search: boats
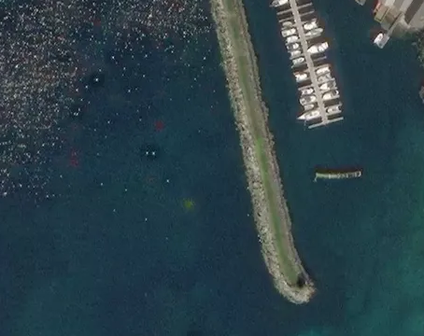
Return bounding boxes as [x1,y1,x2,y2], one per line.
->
[375,32,385,46]
[317,73,334,82]
[316,67,332,76]
[285,43,300,51]
[285,36,299,44]
[294,73,308,82]
[305,27,325,37]
[319,81,337,91]
[280,22,294,30]
[296,109,323,124]
[280,28,297,37]
[290,57,306,65]
[272,0,291,7]
[299,88,314,95]
[302,104,316,111]
[288,50,301,57]
[307,40,331,54]
[322,91,340,101]
[302,21,318,30]
[299,95,317,105]
[325,105,342,113]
